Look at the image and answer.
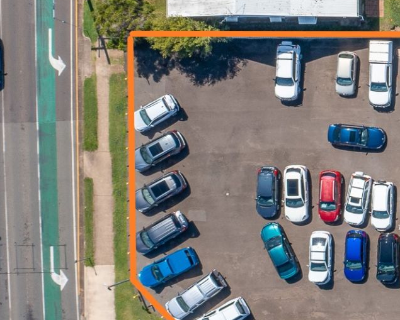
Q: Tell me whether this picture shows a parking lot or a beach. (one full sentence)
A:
The picture captures a parking lot.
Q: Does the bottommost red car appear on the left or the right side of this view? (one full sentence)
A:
It is on the right.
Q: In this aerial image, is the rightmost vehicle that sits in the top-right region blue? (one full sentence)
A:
No, the rightmost vehicle that sits in the top-right region is white.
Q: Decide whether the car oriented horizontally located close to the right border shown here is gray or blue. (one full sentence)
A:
In this view, the car oriented horizontally located close to the right border is blue.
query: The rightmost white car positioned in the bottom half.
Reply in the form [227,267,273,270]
[367,178,395,231]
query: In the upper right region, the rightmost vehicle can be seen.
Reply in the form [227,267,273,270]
[366,40,394,109]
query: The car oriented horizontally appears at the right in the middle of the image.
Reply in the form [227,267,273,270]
[328,124,388,151]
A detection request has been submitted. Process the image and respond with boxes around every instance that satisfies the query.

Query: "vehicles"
[253,166,282,218]
[333,51,360,96]
[264,222,300,281]
[328,124,388,151]
[199,296,251,320]
[366,40,394,109]
[137,171,189,208]
[133,93,183,131]
[168,270,228,320]
[139,247,201,289]
[273,41,302,102]
[135,130,189,166]
[306,231,334,285]
[374,234,400,285]
[315,171,342,223]
[282,165,310,223]
[367,178,395,231]
[341,231,368,282]
[341,170,373,227]
[136,211,191,255]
